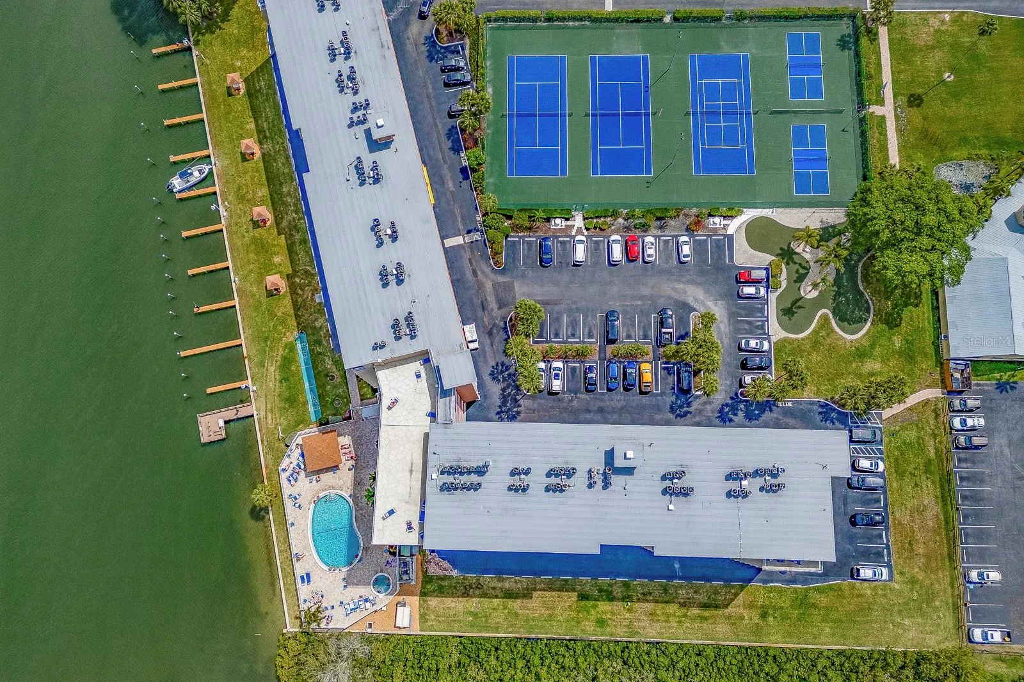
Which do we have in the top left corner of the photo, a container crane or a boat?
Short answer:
boat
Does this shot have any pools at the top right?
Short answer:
No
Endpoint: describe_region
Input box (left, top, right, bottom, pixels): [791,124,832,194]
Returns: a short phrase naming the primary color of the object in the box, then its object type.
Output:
blue sports court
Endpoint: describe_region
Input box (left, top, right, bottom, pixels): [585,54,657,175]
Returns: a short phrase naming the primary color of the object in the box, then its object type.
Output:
blue tennis court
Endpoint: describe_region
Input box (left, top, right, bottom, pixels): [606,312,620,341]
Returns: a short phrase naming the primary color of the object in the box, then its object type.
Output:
blue vehicle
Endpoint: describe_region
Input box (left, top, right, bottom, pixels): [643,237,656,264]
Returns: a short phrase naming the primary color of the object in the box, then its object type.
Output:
white vehicle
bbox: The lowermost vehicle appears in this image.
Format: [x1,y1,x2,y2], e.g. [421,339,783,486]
[970,628,1010,644]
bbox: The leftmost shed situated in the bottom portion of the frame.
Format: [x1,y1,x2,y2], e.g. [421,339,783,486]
[302,430,343,472]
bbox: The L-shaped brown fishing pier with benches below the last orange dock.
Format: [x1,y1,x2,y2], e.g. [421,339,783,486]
[196,403,253,443]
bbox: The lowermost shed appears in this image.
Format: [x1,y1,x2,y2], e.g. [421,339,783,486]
[395,605,411,630]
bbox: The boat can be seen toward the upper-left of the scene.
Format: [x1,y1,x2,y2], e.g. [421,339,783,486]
[165,166,211,193]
